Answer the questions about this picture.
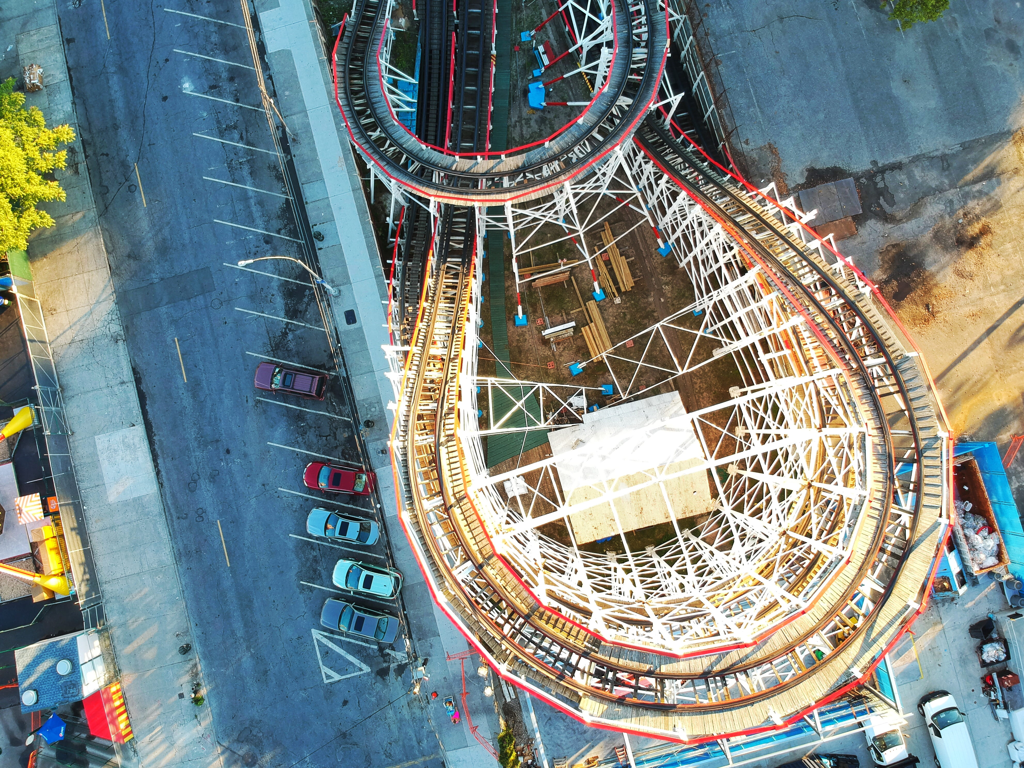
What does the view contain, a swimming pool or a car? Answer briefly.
car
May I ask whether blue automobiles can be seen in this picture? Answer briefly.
Yes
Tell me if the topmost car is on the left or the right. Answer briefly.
left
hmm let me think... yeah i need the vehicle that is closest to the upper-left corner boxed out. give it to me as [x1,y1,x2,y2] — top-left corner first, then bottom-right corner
[253,361,330,401]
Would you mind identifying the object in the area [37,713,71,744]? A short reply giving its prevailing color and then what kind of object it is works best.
blue umbrella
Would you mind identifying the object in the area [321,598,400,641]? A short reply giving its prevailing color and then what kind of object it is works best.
blue car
